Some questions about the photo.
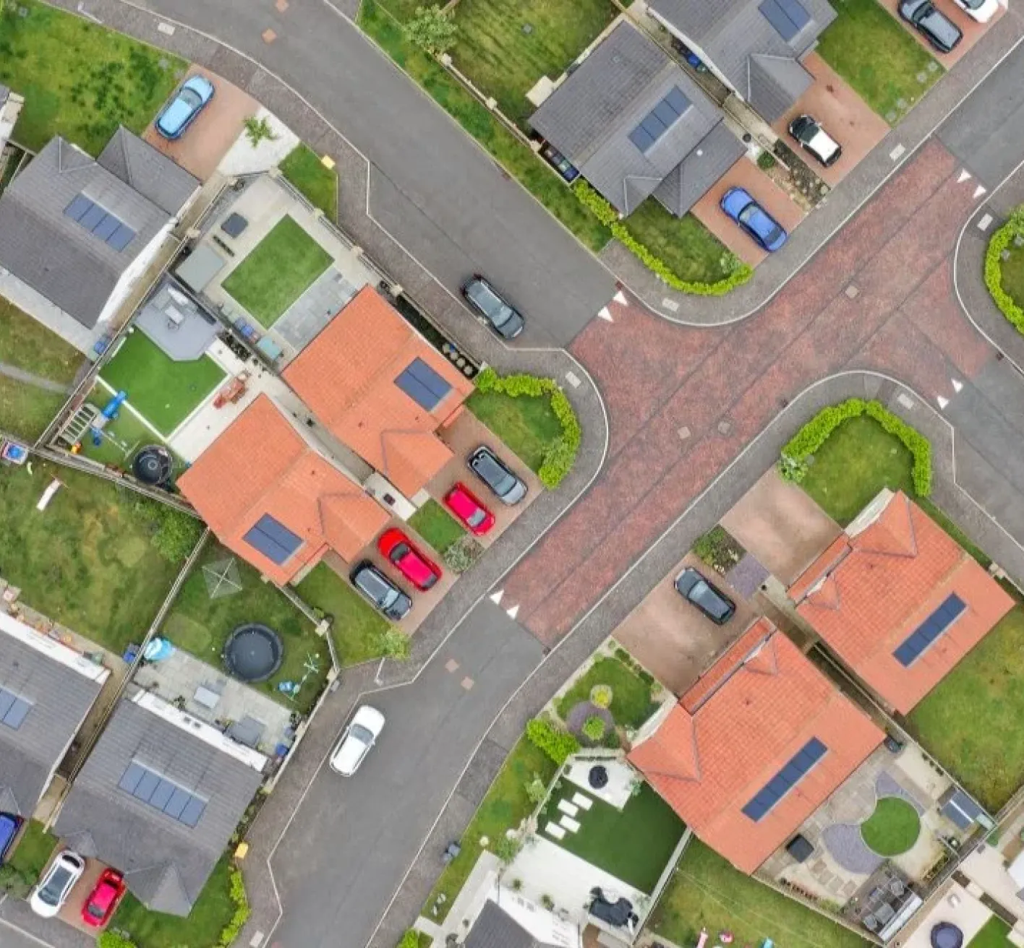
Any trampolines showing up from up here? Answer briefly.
Yes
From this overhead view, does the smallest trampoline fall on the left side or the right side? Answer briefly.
left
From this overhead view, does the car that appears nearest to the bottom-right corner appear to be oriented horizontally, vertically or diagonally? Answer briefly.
diagonally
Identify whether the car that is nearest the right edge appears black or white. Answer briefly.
white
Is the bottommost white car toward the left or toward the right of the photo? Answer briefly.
left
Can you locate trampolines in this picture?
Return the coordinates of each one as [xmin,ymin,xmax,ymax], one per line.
[121,445,173,486]
[222,622,283,683]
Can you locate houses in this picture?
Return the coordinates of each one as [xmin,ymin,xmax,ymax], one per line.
[644,0,840,126]
[0,82,27,143]
[784,491,1016,715]
[461,882,615,948]
[176,391,394,588]
[0,606,120,822]
[0,125,209,330]
[52,693,270,917]
[529,18,748,219]
[628,611,888,876]
[280,284,477,498]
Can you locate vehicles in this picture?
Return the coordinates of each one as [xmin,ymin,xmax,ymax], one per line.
[156,72,213,144]
[894,0,964,59]
[81,863,127,930]
[955,0,1012,35]
[331,702,384,779]
[376,525,446,595]
[460,269,528,343]
[439,478,500,540]
[0,817,26,869]
[671,563,740,629]
[720,183,789,255]
[463,440,531,509]
[786,110,847,171]
[29,847,88,922]
[345,557,416,624]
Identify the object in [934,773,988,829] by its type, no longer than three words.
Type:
shed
